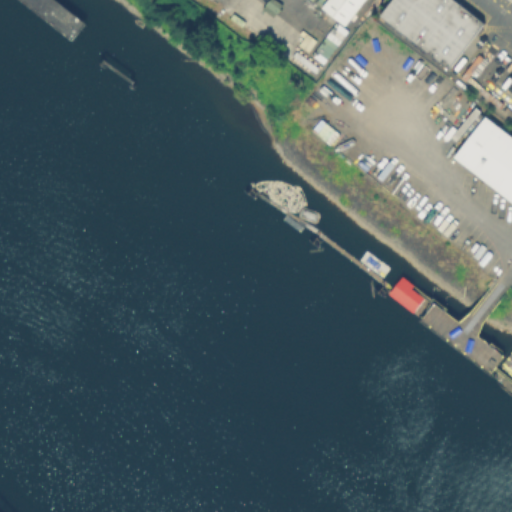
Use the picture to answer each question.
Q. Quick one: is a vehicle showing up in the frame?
Yes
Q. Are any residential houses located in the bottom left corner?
No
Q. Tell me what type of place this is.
port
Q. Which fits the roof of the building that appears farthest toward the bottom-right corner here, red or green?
red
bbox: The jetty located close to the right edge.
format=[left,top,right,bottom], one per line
[421,280,509,374]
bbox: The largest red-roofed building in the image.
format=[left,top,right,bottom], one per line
[391,280,428,314]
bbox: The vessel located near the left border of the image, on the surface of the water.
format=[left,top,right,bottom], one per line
[14,0,84,42]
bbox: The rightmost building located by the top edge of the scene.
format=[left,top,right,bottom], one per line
[380,0,484,68]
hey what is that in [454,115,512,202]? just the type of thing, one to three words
building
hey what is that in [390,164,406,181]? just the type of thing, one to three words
vehicle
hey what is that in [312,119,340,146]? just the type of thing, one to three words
shed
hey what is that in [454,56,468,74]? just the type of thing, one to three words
vehicle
